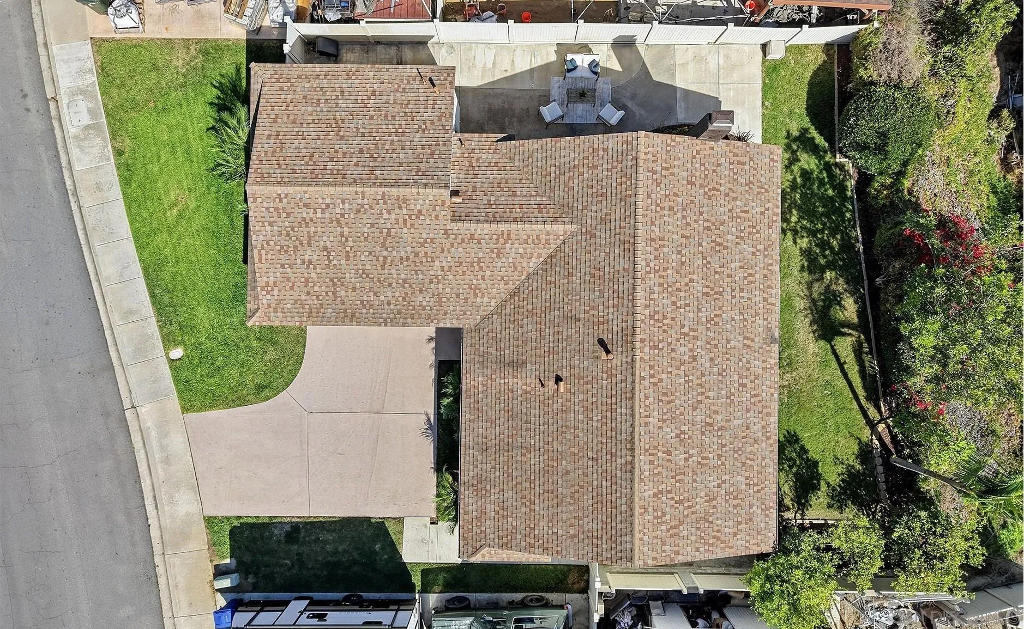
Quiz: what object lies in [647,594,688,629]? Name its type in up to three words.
shed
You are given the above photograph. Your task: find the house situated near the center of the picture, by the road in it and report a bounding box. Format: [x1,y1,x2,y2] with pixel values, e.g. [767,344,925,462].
[246,61,781,567]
